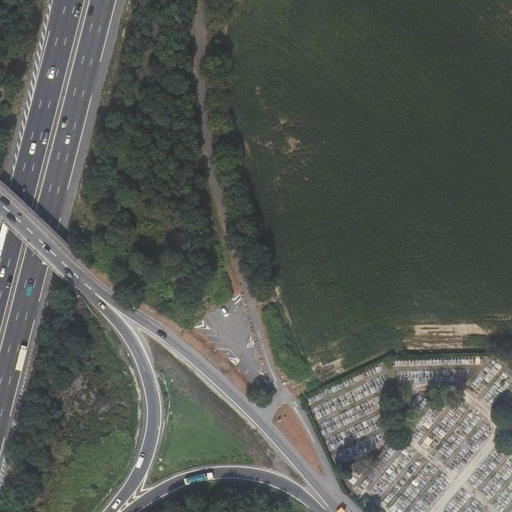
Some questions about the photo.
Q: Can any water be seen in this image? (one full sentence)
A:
No, water can't be seen anywhere here.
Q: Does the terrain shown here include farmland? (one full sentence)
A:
Yes, there's farmland in this view.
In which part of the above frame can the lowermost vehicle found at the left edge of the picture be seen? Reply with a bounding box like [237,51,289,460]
[14,344,28,372]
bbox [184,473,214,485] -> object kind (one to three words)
vehicle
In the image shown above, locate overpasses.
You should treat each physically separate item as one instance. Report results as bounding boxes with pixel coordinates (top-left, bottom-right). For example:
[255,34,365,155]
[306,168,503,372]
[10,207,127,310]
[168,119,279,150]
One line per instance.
[0,180,92,294]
